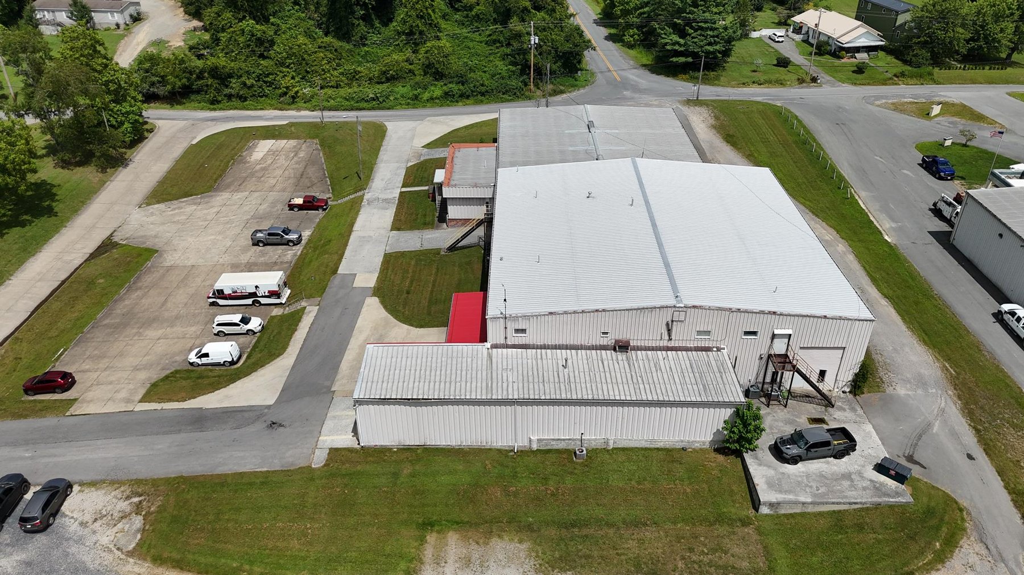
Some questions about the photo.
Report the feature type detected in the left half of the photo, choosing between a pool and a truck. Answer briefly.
truck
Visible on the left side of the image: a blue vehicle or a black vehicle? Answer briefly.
black vehicle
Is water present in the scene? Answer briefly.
No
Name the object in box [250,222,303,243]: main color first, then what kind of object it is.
gray truck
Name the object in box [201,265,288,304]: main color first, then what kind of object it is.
white truck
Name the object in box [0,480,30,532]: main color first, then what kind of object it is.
black car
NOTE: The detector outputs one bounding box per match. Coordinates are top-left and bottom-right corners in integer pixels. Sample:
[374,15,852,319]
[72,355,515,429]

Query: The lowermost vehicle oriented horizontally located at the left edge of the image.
[15,366,80,393]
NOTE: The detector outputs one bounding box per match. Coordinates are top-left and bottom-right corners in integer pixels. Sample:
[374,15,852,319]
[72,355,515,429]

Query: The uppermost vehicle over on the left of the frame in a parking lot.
[288,191,330,208]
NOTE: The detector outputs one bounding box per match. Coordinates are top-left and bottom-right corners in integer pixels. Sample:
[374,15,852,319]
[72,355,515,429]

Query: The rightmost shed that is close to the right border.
[951,183,1024,304]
